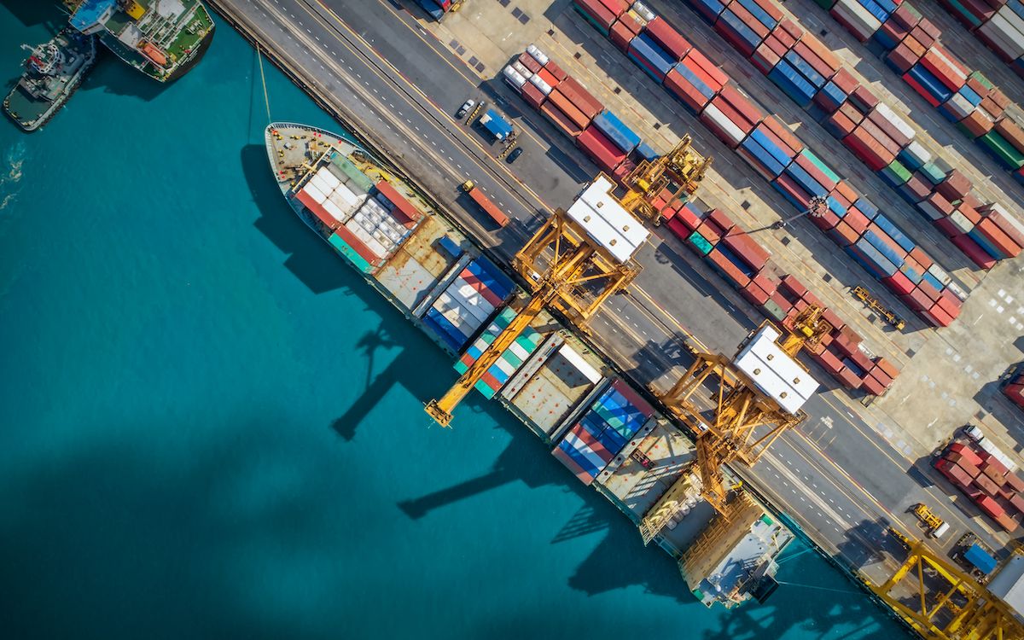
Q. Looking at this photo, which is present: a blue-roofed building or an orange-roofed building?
blue-roofed building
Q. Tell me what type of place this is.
port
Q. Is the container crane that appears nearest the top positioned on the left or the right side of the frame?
right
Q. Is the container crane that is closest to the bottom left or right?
right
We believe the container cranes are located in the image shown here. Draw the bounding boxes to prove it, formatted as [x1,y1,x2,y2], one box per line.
[420,155,671,432]
[644,305,838,527]
[848,522,1024,640]
[621,130,718,233]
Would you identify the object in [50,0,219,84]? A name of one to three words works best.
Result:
ship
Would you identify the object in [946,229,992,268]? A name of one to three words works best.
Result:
shipping container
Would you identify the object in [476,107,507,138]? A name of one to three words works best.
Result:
building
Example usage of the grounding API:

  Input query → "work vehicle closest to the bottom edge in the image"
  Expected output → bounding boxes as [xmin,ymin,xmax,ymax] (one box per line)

[909,502,951,539]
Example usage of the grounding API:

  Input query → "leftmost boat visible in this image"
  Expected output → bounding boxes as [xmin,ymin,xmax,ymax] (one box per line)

[2,28,102,131]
